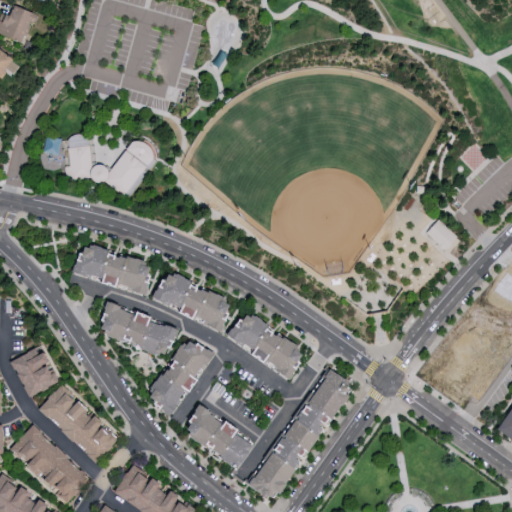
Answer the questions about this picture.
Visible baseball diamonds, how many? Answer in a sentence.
There is 1 baseball diamond in the image.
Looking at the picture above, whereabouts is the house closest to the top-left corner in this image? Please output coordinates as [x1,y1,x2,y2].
[0,4,38,46]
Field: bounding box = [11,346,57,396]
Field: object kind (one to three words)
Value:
house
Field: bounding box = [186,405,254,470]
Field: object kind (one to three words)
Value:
house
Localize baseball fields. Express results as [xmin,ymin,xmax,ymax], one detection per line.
[182,66,442,276]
